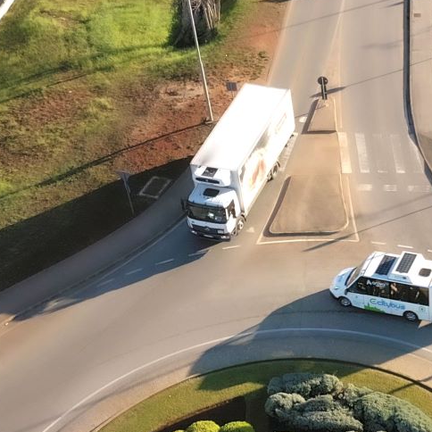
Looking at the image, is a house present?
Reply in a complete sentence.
No, there appears to be no house in this shot.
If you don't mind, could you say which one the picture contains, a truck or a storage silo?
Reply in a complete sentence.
It is a truck that can be seen here.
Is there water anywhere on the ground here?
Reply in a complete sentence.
No, no water is visible.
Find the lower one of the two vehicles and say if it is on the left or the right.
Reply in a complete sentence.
It is on the right.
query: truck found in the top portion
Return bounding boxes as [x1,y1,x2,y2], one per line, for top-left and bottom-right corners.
[179,84,294,244]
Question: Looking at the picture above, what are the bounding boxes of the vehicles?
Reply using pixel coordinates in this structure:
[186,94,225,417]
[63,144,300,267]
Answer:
[179,84,294,244]
[327,248,432,322]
